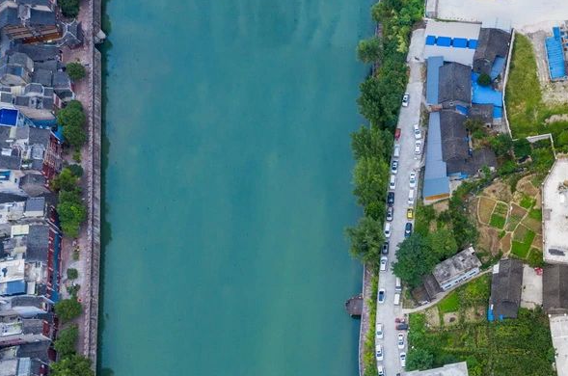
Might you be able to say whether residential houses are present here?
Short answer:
Yes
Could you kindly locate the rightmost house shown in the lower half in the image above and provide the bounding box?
[543,262,568,318]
